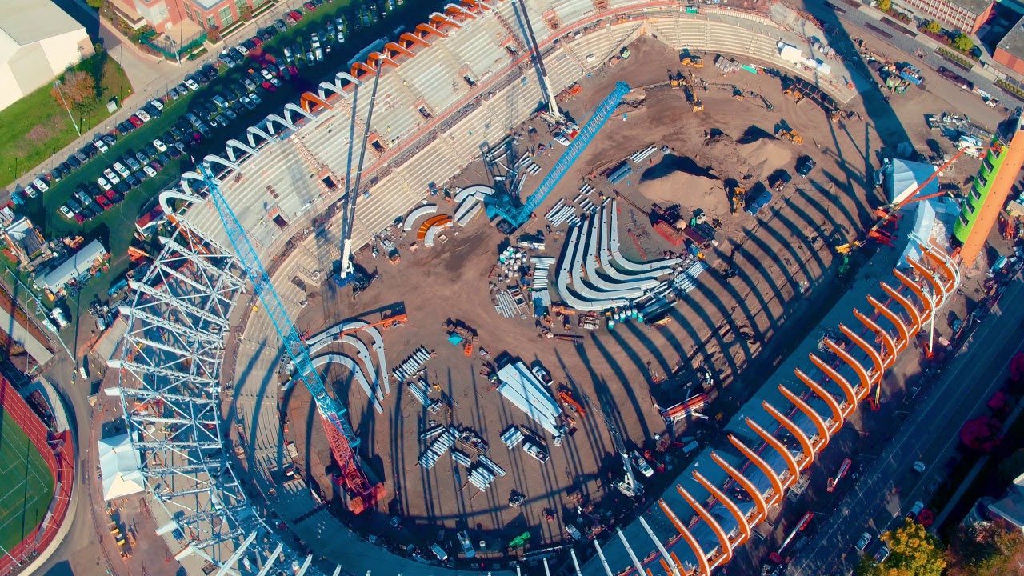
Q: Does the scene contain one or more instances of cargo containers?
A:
Yes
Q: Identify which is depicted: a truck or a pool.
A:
truck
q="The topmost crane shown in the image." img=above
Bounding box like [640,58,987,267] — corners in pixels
[504,0,576,135]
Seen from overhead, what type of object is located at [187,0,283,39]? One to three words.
building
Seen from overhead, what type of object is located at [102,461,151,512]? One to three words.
tent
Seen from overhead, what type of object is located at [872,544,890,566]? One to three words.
car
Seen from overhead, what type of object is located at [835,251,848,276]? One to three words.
vehicle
